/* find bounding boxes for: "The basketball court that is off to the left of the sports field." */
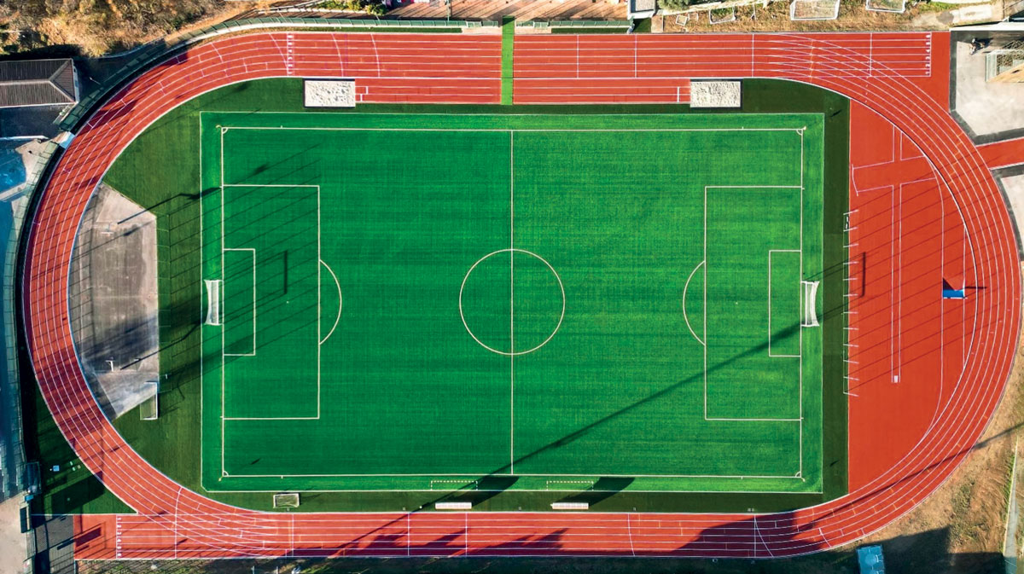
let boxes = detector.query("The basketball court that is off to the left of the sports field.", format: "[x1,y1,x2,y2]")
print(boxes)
[69,181,159,422]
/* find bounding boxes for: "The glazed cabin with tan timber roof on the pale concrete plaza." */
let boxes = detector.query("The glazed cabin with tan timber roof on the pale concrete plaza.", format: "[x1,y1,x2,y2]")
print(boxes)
[986,50,1024,83]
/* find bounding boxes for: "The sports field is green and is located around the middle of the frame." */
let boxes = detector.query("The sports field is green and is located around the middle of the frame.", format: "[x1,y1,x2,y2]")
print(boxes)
[200,112,825,494]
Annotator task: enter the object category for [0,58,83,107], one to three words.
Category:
building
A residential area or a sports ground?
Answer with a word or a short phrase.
sports ground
